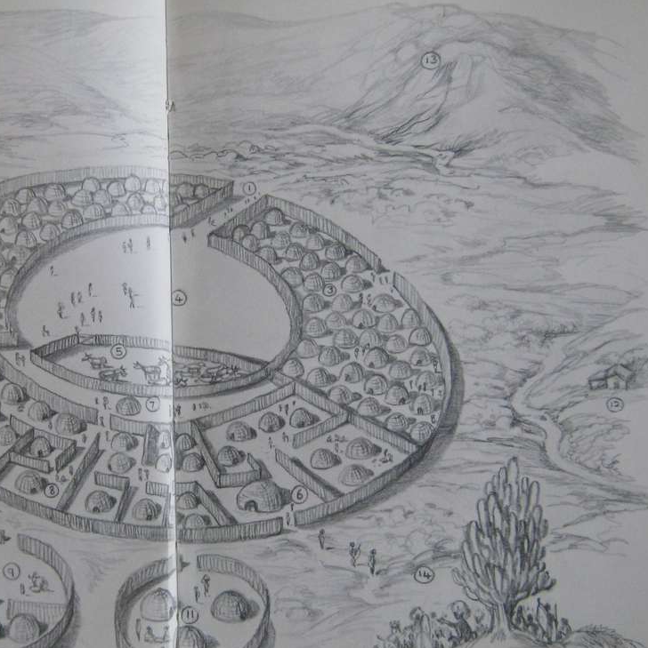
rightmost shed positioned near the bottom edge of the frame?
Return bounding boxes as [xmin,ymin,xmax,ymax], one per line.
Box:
[211,587,249,624]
